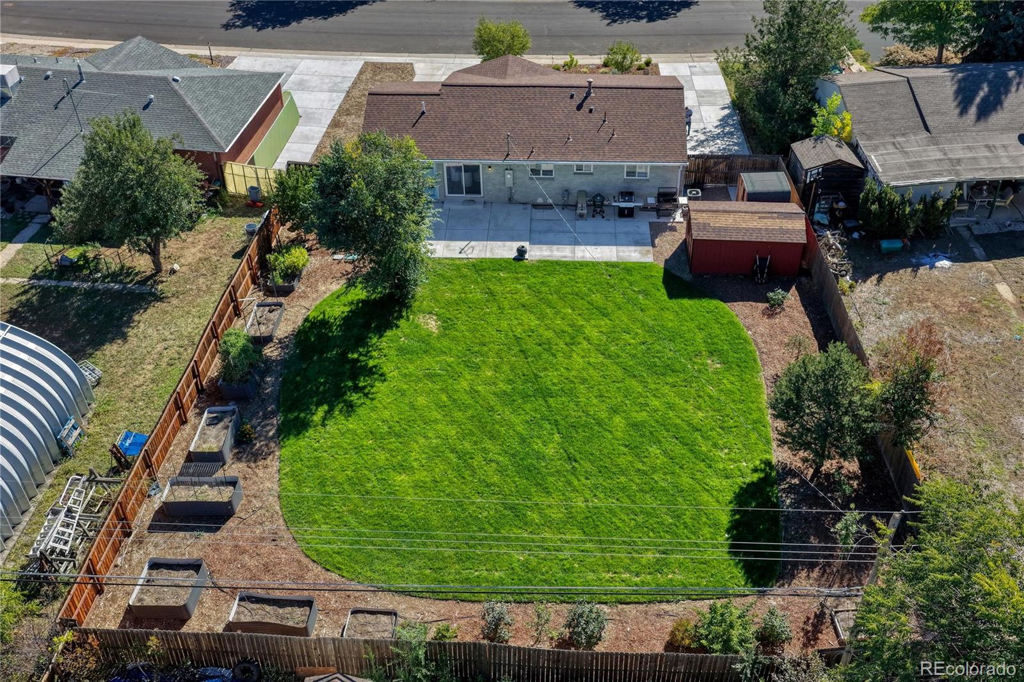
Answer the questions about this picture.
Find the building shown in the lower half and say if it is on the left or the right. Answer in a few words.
left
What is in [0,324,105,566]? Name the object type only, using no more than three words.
building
